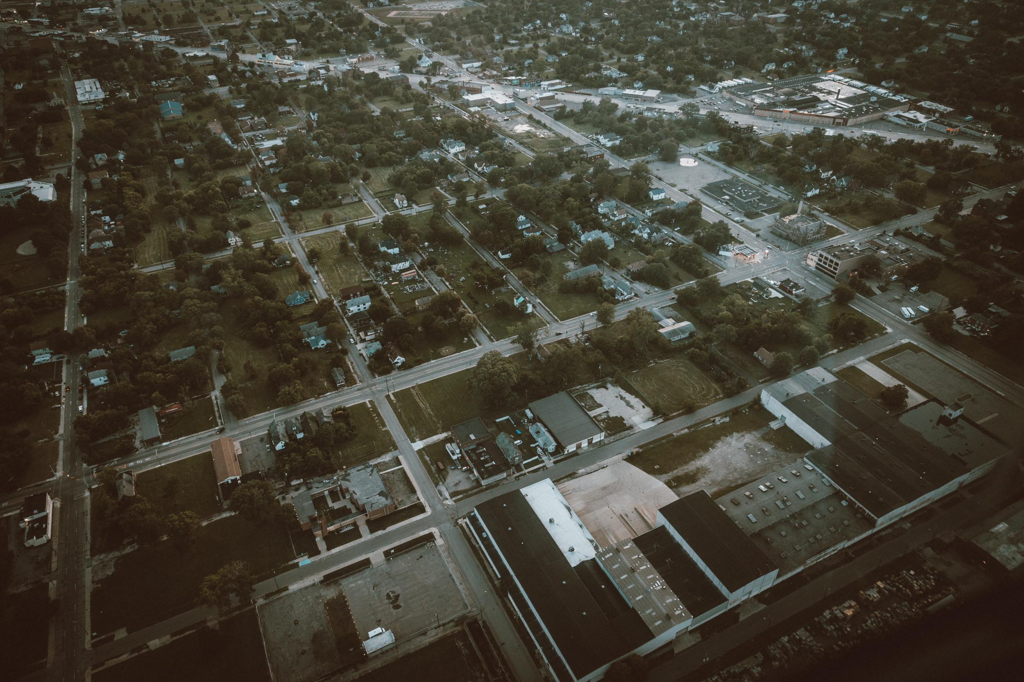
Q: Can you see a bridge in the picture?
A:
No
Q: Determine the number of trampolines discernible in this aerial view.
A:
0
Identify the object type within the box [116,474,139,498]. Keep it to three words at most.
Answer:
house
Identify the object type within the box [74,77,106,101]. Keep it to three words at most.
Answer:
building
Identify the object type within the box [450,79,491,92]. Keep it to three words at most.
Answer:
building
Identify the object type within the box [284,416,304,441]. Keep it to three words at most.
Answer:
house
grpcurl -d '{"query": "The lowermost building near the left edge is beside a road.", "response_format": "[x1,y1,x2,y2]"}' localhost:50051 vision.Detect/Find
[23,513,53,550]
